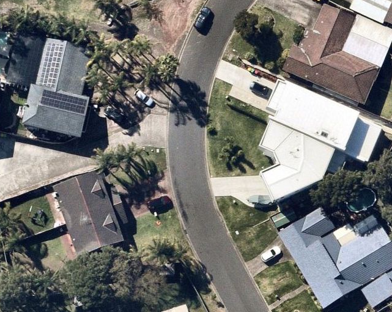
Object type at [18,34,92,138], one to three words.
house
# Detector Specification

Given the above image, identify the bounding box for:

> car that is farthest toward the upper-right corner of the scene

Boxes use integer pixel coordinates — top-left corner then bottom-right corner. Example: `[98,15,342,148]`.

[249,83,271,96]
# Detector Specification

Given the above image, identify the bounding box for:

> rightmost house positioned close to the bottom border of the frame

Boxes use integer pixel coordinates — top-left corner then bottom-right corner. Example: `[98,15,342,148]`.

[273,206,392,312]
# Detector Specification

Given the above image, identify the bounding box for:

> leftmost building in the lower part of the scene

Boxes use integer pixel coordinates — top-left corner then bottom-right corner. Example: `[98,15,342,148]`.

[53,171,128,251]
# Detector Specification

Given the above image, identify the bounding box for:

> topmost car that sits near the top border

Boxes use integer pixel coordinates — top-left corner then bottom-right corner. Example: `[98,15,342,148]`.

[195,7,211,31]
